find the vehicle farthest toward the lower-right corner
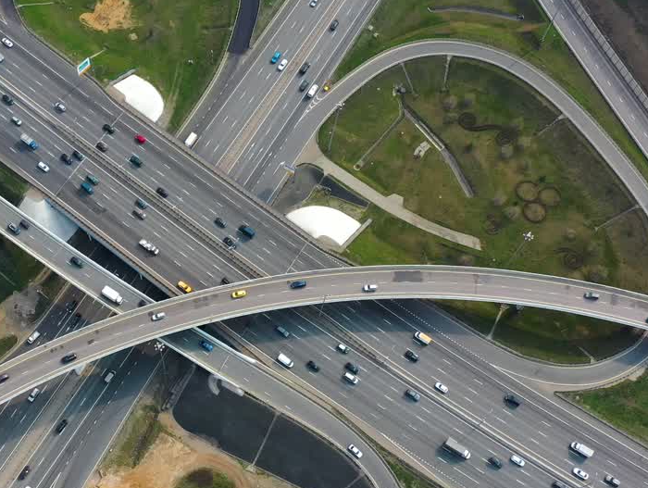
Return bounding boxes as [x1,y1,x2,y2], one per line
[603,475,621,488]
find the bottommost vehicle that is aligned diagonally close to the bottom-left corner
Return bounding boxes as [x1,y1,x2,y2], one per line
[16,465,30,481]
